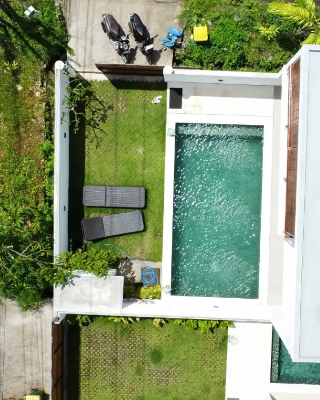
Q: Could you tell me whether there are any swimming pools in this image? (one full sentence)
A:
Yes, the image includes a swimming pool.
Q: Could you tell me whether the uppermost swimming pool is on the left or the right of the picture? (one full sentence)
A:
It is on the right.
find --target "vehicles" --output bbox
[99,3,130,64]
[127,1,156,62]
